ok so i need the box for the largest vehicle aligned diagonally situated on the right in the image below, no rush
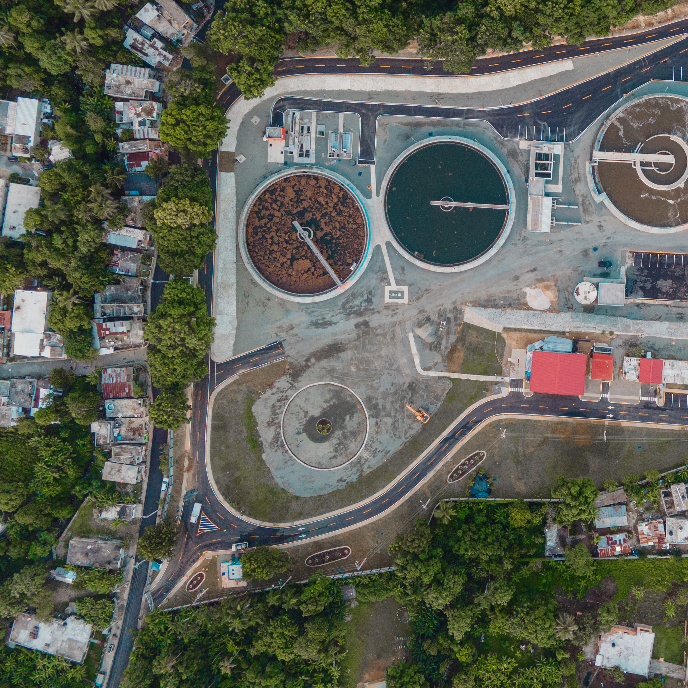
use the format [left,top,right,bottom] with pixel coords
[405,401,432,425]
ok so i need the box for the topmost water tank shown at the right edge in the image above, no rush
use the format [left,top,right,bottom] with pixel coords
[586,92,688,232]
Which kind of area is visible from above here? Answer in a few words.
residential area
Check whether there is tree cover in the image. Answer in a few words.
Yes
